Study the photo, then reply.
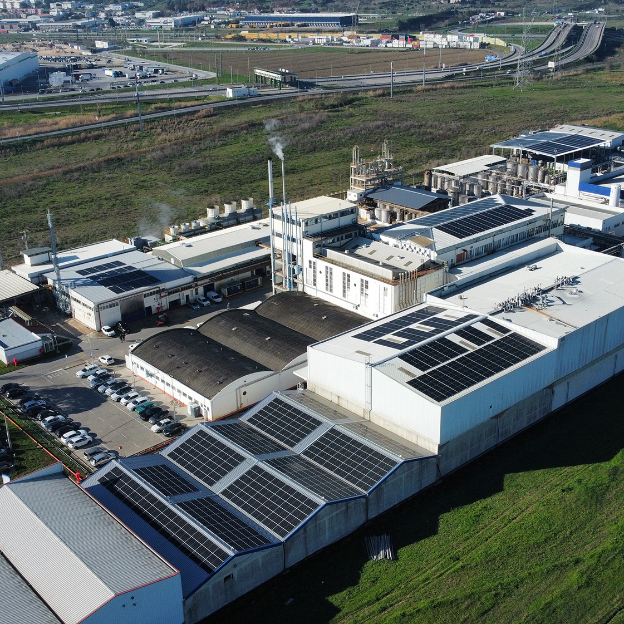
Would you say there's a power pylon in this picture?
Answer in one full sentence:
Yes, I can see a power pylon in this picture.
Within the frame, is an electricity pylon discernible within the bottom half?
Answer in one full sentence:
No, no electricity pylon can be made out within the bottom half.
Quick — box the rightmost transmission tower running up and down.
[551,25,571,72]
